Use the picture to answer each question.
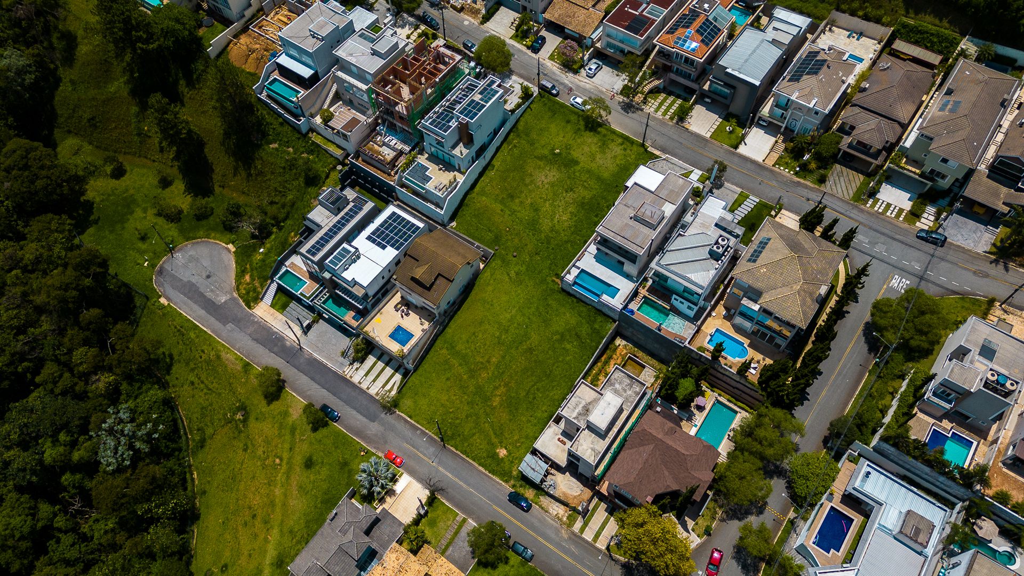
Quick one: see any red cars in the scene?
Yes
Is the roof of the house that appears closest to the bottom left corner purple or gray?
gray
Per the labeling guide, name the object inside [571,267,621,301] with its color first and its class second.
blue swimming pool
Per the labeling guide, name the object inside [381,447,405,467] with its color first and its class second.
red car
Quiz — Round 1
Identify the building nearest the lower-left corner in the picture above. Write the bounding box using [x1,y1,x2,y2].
[285,481,404,576]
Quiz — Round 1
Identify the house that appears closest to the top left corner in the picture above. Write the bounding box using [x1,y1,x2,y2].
[205,0,265,36]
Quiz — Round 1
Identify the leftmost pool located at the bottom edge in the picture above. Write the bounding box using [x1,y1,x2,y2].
[808,502,860,559]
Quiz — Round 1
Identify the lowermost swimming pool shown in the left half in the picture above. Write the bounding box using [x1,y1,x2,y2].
[384,321,419,350]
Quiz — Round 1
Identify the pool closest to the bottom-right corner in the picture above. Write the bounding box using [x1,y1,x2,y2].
[950,527,1020,569]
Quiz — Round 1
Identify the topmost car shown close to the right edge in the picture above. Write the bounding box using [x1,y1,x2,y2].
[973,202,988,216]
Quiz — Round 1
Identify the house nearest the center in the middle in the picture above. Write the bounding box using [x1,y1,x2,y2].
[392,228,483,319]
